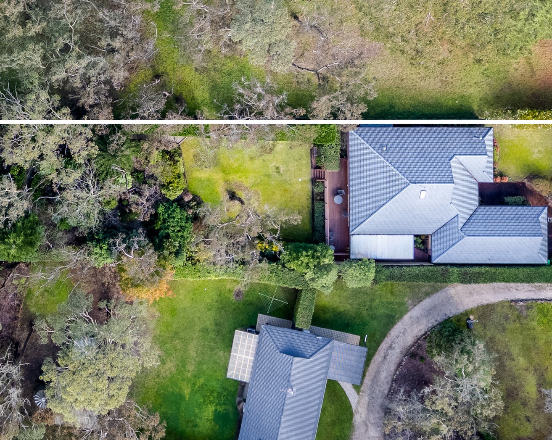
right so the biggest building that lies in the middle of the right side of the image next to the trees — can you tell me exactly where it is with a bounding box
[315,127,548,264]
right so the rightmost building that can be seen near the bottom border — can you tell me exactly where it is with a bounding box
[226,323,368,440]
